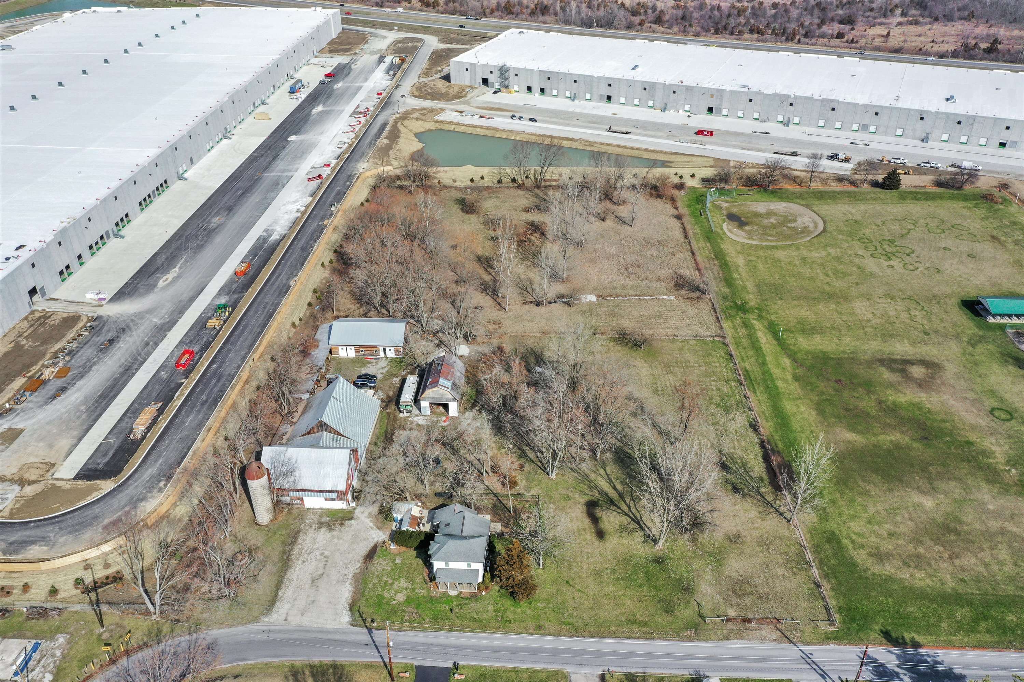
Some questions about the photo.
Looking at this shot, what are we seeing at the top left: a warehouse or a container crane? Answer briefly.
warehouse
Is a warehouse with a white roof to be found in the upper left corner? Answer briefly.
Yes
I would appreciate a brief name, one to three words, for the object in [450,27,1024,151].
warehouse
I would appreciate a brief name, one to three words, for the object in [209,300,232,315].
work vehicle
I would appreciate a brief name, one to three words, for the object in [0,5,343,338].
warehouse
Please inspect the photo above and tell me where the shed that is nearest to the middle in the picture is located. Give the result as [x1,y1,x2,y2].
[417,353,462,414]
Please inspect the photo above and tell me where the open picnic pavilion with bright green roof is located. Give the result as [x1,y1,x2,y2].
[972,295,1024,323]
